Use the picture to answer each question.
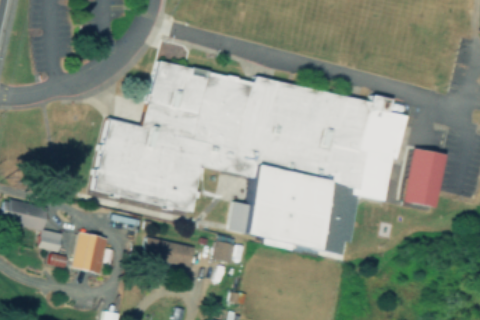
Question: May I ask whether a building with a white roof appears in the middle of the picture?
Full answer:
Yes, you'll find a building with a white roof in the middle of the picture.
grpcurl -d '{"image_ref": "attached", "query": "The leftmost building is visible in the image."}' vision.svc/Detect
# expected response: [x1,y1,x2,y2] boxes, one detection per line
[4,198,48,233]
